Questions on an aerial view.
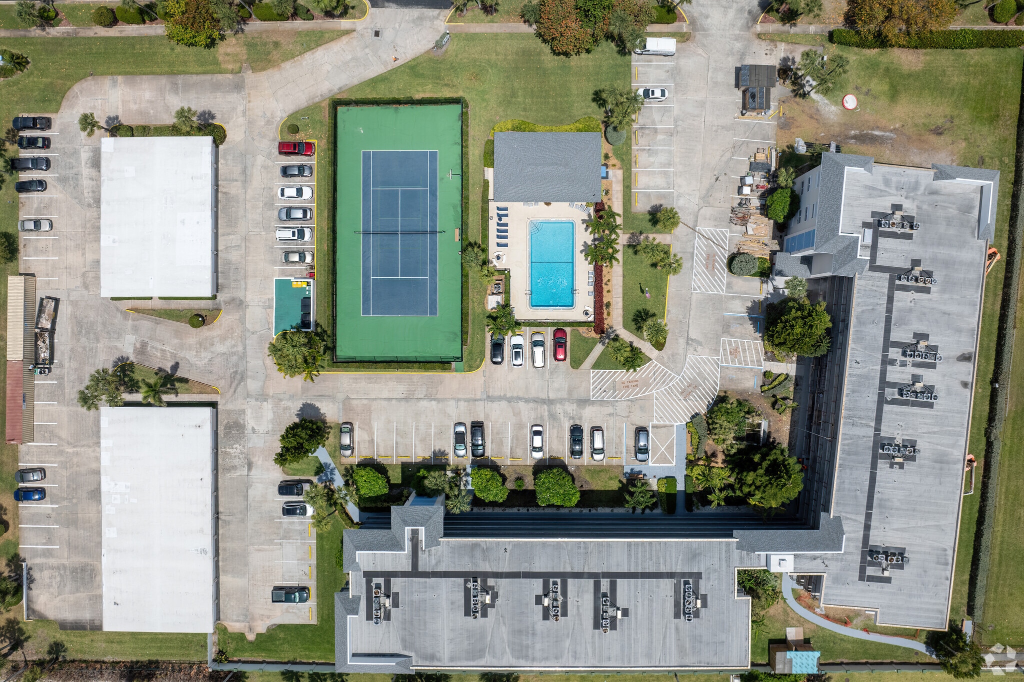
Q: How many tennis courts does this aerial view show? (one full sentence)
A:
The picture shows 1 tennis court.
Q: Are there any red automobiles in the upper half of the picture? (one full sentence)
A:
Yes, in the upper half of the picture there is a red automobile.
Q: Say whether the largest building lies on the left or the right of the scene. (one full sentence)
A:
The largest building is on the right side of the image.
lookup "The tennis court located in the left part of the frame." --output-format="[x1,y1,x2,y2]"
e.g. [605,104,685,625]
[335,104,463,372]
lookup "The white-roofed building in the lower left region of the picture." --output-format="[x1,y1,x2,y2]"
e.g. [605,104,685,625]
[99,407,222,633]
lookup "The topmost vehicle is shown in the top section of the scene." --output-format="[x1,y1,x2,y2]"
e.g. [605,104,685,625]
[638,36,677,55]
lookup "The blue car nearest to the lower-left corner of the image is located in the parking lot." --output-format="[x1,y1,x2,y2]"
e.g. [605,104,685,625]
[14,487,48,503]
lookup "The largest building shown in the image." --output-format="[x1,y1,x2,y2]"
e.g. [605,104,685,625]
[335,152,999,673]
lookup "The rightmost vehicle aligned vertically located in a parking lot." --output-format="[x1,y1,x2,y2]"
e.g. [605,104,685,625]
[635,427,651,462]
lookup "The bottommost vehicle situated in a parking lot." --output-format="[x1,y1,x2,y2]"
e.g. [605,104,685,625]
[271,586,311,603]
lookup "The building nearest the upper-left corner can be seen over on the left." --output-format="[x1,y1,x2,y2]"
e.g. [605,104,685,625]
[101,136,224,297]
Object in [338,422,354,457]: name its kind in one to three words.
car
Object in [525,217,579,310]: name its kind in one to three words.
swimming pool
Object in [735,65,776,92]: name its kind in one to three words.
shed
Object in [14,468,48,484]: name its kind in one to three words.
car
